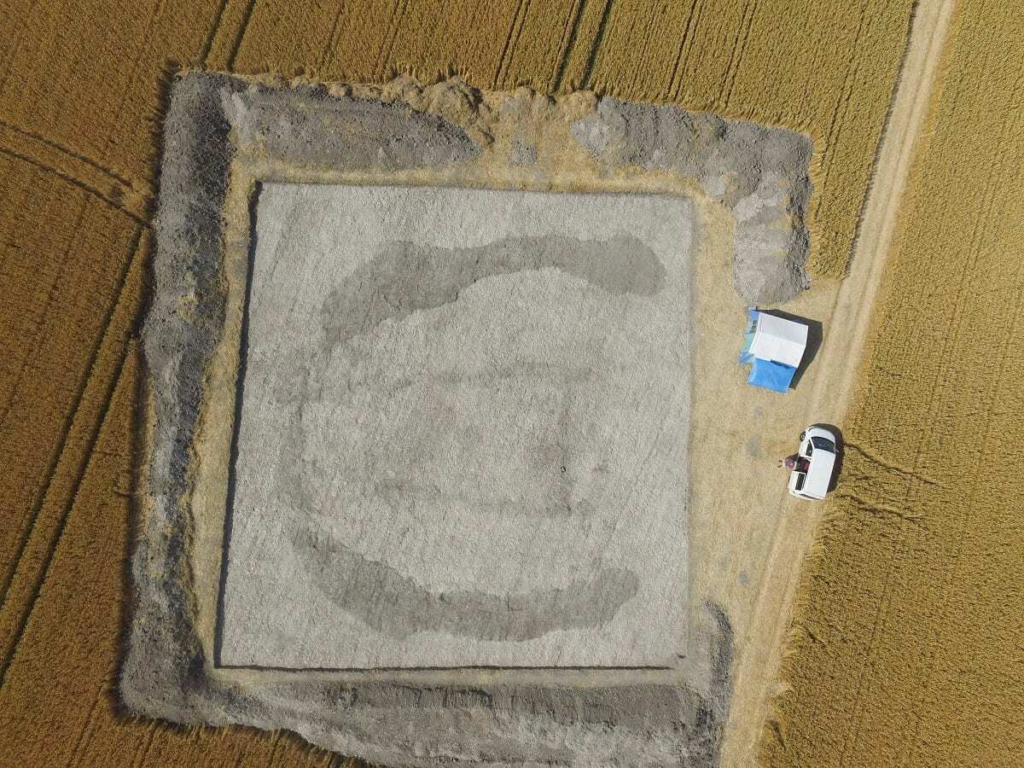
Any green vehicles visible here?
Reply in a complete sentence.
No, the photo shows no green vehicle.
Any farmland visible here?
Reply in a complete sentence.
Yes, the picture does contain farmland.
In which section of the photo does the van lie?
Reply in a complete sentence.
The van sits in the right section of the image.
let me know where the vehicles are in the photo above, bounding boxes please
[789,423,837,502]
